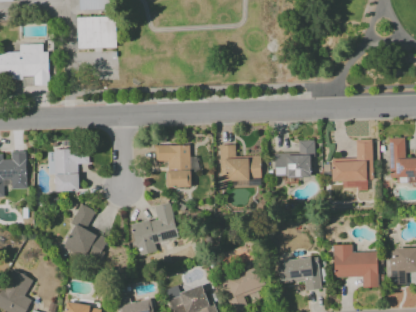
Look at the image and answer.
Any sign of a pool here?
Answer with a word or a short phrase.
Yes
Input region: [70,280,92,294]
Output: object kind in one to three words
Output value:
swimming pool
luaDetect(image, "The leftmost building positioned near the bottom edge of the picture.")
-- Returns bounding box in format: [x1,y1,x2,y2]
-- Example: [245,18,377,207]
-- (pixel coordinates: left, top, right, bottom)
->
[0,272,34,312]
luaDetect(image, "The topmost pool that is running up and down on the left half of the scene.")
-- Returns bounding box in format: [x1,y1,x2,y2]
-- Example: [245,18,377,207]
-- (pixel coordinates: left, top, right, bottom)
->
[38,168,50,194]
